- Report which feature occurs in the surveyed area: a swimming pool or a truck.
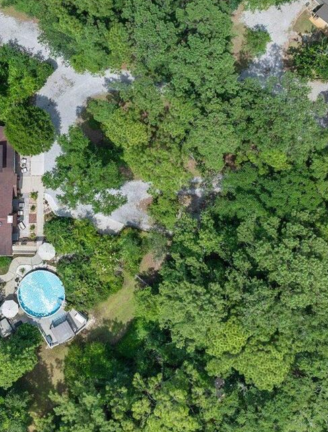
swimming pool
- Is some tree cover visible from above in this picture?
Yes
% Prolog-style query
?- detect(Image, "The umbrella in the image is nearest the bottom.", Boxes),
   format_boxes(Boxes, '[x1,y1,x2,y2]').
[1,300,18,317]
